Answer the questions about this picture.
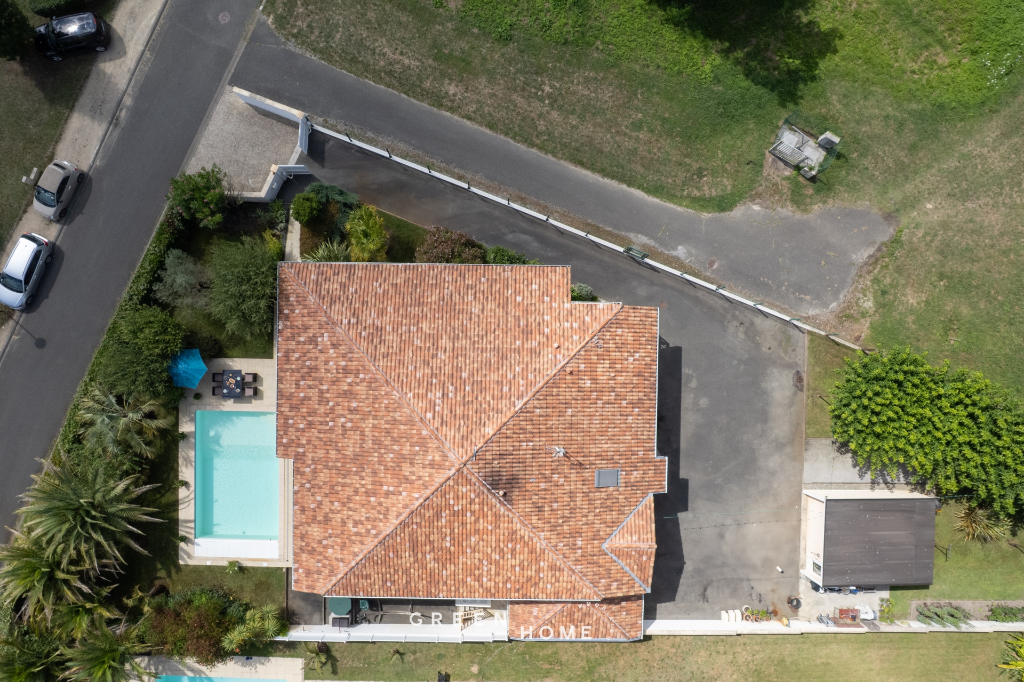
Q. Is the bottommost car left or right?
left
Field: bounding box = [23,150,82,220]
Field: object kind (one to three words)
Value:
car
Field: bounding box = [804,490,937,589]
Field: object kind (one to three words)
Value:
shed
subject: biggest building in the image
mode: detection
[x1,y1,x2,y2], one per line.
[274,260,669,601]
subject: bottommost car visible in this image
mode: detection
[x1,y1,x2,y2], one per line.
[0,232,50,310]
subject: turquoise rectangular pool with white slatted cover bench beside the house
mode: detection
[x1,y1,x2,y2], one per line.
[194,411,279,559]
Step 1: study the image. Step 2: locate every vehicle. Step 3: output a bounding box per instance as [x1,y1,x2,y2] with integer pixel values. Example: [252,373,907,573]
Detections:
[31,7,112,58]
[0,232,50,310]
[23,150,82,220]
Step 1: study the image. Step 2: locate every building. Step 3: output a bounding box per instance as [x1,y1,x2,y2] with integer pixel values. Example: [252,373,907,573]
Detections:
[804,490,937,589]
[274,260,669,601]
